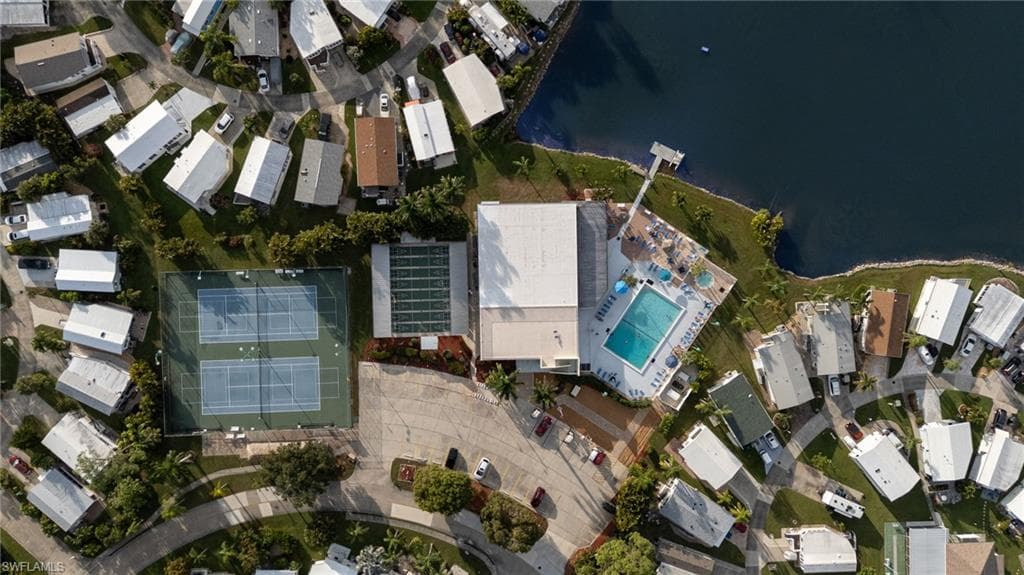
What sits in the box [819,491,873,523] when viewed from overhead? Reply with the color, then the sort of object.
white trailer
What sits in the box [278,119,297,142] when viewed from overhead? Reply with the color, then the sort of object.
gray car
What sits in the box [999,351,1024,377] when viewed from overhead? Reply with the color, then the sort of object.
black vehicle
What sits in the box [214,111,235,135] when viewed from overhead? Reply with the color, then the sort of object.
white car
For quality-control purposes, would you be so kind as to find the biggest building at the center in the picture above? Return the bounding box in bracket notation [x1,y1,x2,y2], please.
[478,201,608,379]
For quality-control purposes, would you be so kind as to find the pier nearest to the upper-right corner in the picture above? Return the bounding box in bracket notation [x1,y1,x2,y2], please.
[648,143,676,179]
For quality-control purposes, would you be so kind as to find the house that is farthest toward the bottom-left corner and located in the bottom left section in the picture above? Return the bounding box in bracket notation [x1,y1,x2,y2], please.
[26,467,101,532]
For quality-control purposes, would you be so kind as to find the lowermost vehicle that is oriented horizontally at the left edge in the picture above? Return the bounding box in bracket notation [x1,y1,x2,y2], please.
[19,258,50,270]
